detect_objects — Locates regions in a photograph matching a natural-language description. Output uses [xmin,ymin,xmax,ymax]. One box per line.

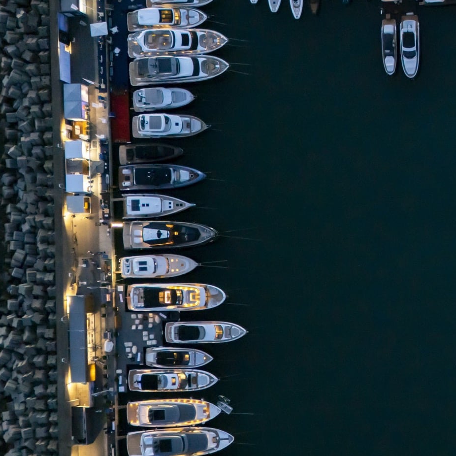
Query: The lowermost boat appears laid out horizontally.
[127,424,253,456]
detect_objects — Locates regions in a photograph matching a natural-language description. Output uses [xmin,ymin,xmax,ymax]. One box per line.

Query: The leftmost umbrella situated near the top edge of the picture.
[90,22,107,37]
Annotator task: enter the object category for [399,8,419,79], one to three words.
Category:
boat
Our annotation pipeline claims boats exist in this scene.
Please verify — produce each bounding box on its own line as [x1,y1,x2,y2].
[419,0,456,7]
[127,396,232,426]
[165,321,262,343]
[128,53,246,84]
[145,347,220,368]
[268,0,282,13]
[399,8,419,79]
[127,283,241,312]
[381,9,398,75]
[127,424,253,456]
[127,28,247,58]
[132,85,201,112]
[109,253,205,278]
[119,164,208,192]
[132,114,216,141]
[124,219,227,251]
[218,395,231,406]
[217,402,236,414]
[121,194,209,217]
[127,7,217,31]
[119,142,193,165]
[127,368,233,391]
[289,0,304,18]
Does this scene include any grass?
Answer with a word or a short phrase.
No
